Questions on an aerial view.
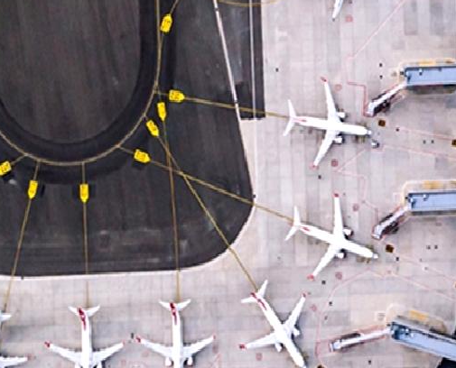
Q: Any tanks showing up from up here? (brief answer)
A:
No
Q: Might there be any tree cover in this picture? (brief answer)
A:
No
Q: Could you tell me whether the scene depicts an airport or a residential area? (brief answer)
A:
airport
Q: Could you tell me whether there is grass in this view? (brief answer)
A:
No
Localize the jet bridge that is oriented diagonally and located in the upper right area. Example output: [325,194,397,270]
[366,79,405,116]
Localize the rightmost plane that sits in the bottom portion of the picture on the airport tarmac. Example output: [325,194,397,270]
[288,195,378,275]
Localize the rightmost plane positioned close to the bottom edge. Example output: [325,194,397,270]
[236,280,306,367]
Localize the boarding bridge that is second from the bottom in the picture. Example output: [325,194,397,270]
[371,203,409,239]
